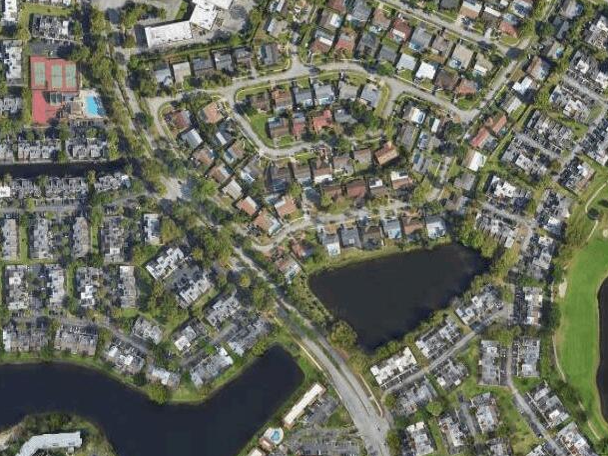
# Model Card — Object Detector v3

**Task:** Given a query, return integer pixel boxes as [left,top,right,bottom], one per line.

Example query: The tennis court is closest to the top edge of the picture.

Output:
[29,57,78,92]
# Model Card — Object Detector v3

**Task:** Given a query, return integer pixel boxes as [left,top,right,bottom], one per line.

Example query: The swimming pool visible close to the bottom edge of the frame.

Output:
[265,427,283,444]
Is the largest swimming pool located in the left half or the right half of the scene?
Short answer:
left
